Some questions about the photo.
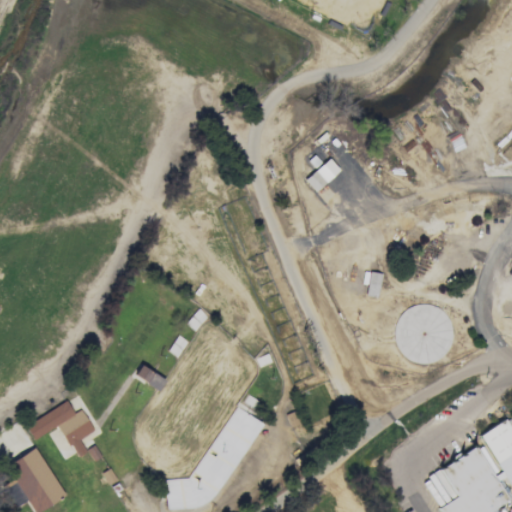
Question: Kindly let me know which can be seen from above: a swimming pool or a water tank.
water tank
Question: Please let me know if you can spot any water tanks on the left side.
No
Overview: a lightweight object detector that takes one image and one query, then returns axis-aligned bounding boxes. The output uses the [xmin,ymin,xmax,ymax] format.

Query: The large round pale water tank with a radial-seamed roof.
[396,305,454,364]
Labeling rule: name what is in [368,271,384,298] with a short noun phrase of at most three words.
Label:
shed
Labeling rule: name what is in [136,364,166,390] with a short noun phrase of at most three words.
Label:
barn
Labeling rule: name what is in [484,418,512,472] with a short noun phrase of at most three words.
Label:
building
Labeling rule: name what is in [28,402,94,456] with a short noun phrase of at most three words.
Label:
house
